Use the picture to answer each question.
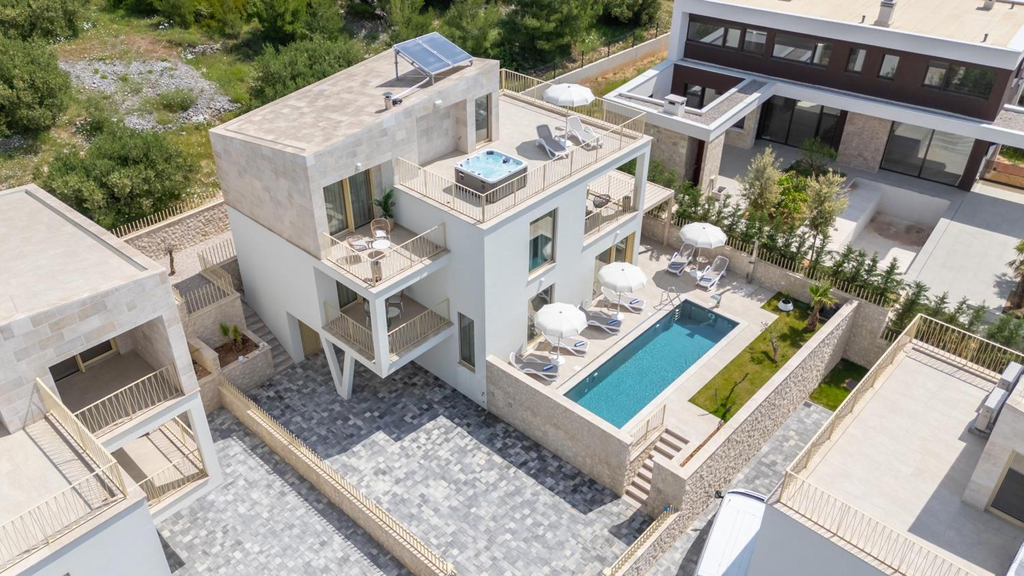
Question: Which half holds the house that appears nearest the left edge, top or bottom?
bottom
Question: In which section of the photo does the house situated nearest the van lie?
bottom right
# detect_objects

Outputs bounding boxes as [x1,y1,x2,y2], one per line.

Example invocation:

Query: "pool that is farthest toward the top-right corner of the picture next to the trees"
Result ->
[805,178,951,277]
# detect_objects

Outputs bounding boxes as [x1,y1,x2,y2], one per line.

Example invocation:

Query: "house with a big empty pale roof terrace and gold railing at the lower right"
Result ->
[749,314,1024,576]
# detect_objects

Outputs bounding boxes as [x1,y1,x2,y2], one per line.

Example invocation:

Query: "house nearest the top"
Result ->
[605,0,1024,192]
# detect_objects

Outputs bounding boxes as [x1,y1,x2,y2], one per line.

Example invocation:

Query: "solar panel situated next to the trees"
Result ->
[391,23,475,102]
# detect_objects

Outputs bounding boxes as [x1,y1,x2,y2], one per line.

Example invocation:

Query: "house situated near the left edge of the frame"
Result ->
[0,182,226,576]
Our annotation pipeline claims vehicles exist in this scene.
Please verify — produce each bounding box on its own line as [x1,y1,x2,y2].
[680,501,764,576]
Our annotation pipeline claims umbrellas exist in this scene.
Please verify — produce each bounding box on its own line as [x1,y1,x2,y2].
[544,84,596,146]
[676,224,724,277]
[532,304,587,365]
[597,263,647,320]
